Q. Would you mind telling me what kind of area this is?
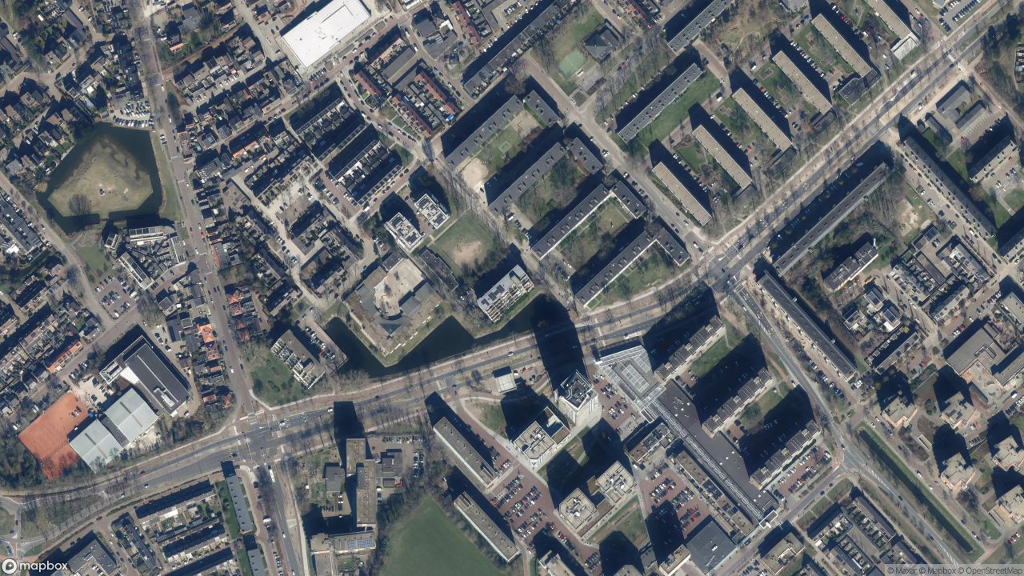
residential area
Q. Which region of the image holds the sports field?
bottom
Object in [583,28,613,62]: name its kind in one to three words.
building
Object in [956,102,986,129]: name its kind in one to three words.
building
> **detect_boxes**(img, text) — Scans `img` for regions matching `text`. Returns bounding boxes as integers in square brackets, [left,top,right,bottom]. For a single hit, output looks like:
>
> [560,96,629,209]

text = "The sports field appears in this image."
[379,495,515,576]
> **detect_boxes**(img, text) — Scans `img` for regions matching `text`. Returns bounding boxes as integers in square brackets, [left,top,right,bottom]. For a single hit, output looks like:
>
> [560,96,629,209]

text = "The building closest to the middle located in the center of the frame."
[477,264,534,327]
